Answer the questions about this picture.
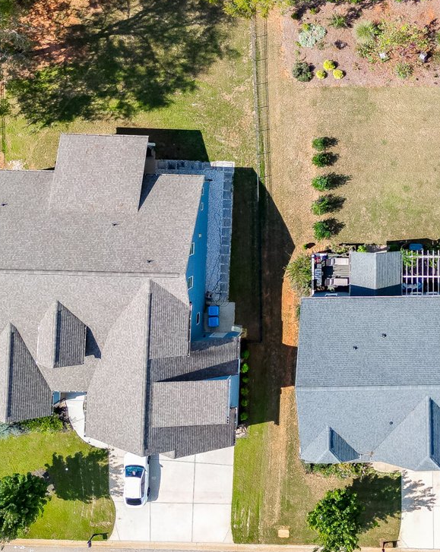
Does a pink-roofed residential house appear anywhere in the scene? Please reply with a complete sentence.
No, there appears to be no pink-roofed residential house in this shot.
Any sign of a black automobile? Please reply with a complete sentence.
No, the scene contains no black automobile.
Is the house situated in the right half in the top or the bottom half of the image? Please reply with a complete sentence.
Seen from above, the house situated in the right half lies in the bottom half of the view.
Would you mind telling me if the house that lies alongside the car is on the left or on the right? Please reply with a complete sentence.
The house that lies alongside the car appears in the left half of the scene.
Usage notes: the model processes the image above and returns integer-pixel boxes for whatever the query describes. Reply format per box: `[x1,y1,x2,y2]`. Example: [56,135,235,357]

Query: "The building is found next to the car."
[0,132,242,461]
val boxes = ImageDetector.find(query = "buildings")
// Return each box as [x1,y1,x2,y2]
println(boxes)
[0,132,242,461]
[295,250,440,472]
